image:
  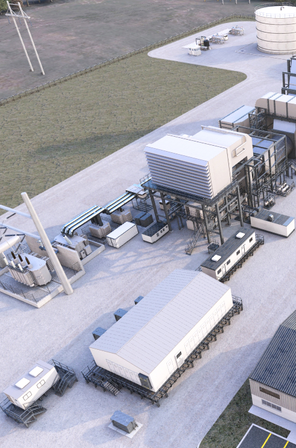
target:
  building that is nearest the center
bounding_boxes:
[141,221,168,244]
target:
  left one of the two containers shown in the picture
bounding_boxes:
[106,221,138,248]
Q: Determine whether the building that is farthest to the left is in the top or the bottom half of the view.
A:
bottom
